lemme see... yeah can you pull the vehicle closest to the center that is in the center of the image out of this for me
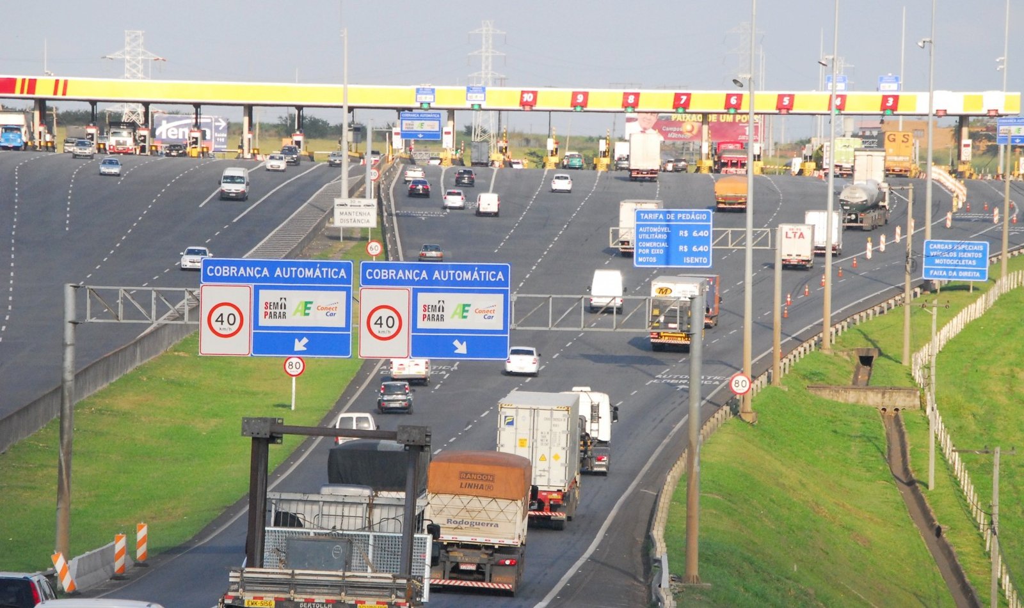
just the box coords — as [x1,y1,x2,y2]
[507,343,545,375]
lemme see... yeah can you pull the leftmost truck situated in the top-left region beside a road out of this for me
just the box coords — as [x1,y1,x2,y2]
[0,117,36,155]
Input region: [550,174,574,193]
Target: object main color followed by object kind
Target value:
white car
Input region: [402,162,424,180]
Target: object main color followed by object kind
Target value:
white vehicle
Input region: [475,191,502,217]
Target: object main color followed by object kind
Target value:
white vehicle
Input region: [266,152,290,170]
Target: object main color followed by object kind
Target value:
white car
